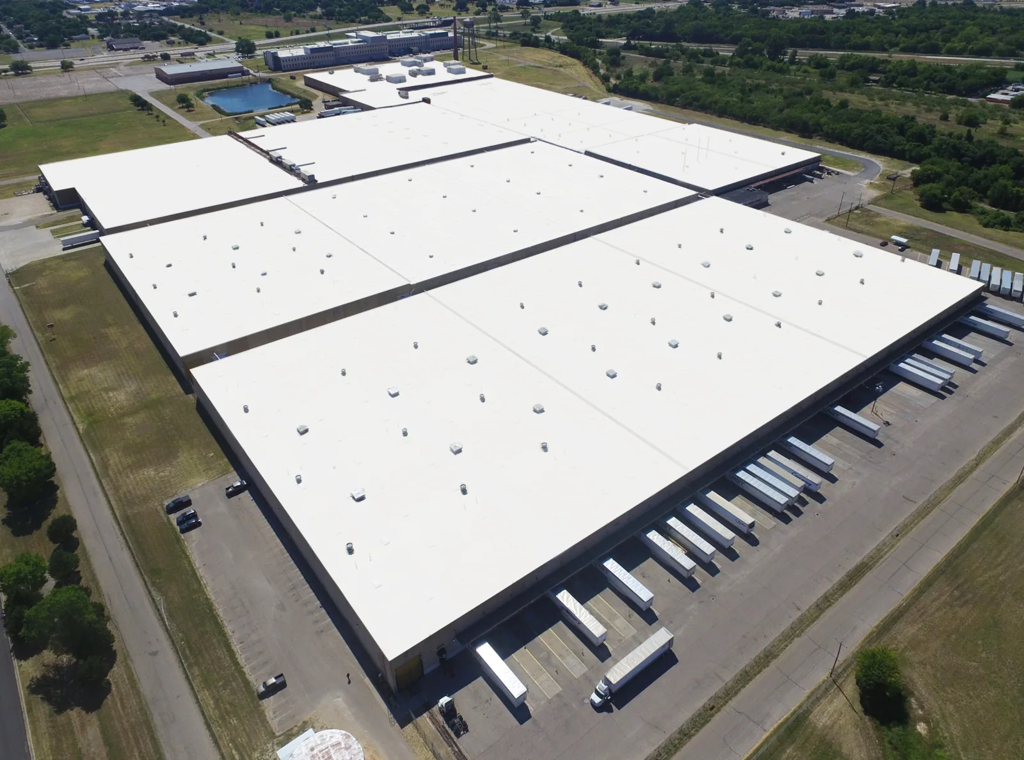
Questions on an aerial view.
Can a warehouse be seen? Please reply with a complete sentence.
Yes, this view includes a warehouse.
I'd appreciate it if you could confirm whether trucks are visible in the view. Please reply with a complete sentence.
Yes, looking at the shot, I can spot a truck.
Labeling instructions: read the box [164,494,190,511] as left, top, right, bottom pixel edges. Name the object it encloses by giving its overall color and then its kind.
black vehicle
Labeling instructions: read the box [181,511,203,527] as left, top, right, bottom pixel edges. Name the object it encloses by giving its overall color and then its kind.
black car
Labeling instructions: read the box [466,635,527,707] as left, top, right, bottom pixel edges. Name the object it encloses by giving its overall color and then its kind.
white trailer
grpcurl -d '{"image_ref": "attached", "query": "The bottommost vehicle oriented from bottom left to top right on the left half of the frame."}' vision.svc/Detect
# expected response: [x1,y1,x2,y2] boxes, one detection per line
[255,672,288,699]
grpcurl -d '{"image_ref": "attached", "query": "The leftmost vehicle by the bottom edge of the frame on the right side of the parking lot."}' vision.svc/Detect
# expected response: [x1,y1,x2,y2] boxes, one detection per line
[433,696,470,734]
